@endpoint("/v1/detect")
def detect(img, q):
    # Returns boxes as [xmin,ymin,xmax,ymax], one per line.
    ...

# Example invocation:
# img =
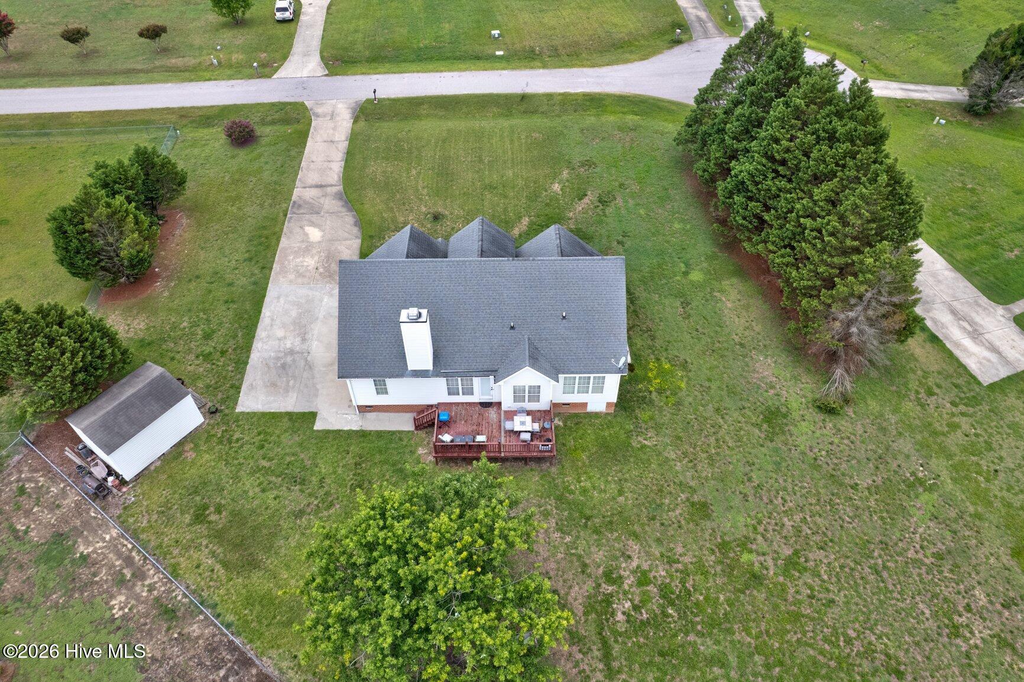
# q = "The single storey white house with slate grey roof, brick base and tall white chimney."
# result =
[337,216,629,419]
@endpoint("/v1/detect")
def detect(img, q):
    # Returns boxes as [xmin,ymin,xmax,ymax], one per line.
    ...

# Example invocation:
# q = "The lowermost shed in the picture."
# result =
[65,362,204,480]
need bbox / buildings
[337,216,629,419]
[65,362,204,480]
